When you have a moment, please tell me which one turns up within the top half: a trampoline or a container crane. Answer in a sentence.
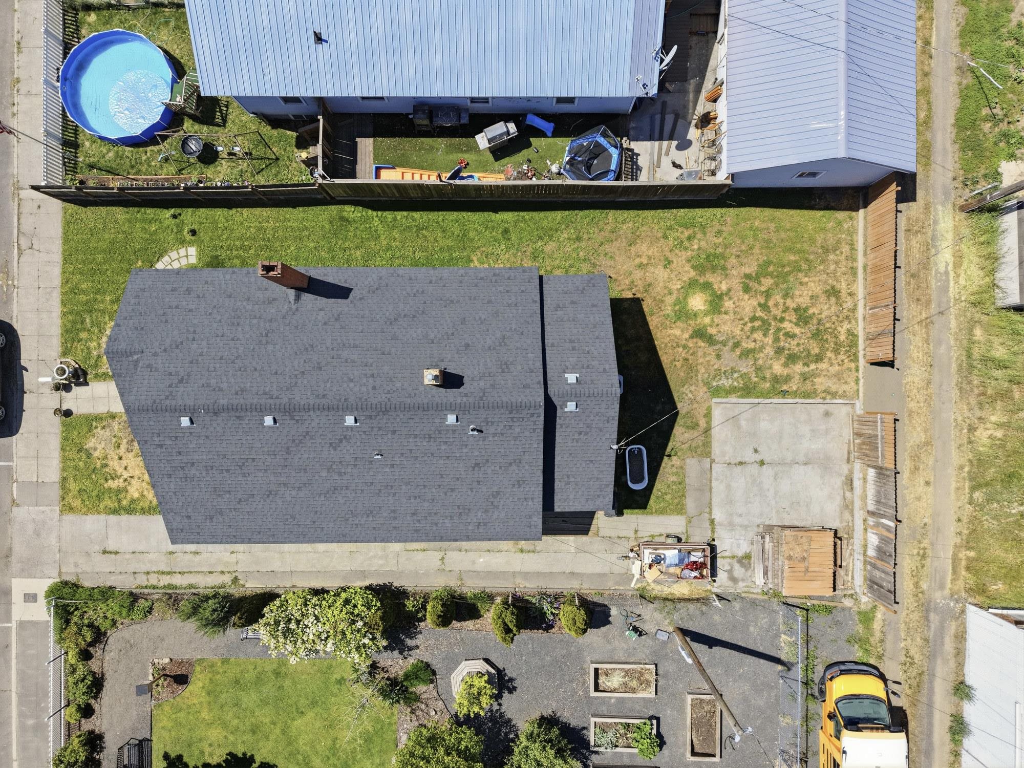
The one visible within the top half is a trampoline.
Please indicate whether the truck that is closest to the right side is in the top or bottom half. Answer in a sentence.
The bottom half of the photo is where the truck that is closest to the right side is.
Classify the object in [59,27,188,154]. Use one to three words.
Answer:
swimming pool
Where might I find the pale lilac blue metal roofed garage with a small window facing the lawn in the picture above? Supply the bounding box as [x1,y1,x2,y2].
[715,0,917,187]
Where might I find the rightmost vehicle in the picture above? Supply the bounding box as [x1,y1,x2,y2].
[813,659,909,768]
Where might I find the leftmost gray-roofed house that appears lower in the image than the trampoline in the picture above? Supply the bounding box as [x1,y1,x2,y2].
[104,259,620,542]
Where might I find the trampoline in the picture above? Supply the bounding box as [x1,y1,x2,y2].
[566,113,628,180]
